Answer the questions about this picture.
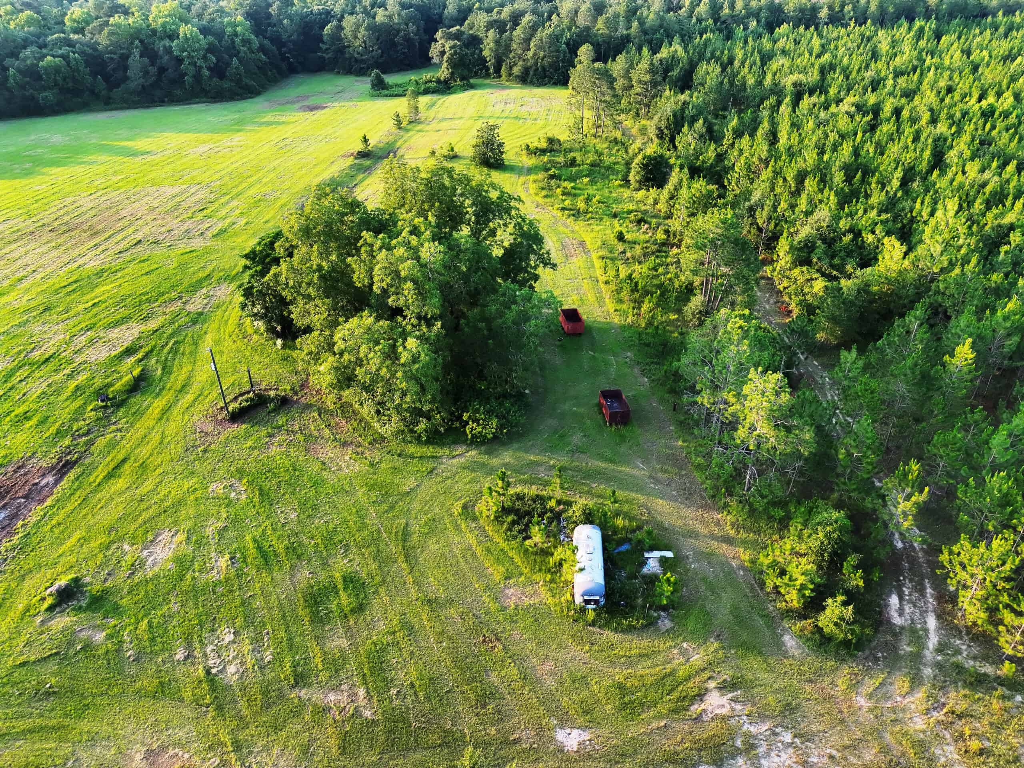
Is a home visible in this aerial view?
No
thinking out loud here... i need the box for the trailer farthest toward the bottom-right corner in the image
[572,521,605,618]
